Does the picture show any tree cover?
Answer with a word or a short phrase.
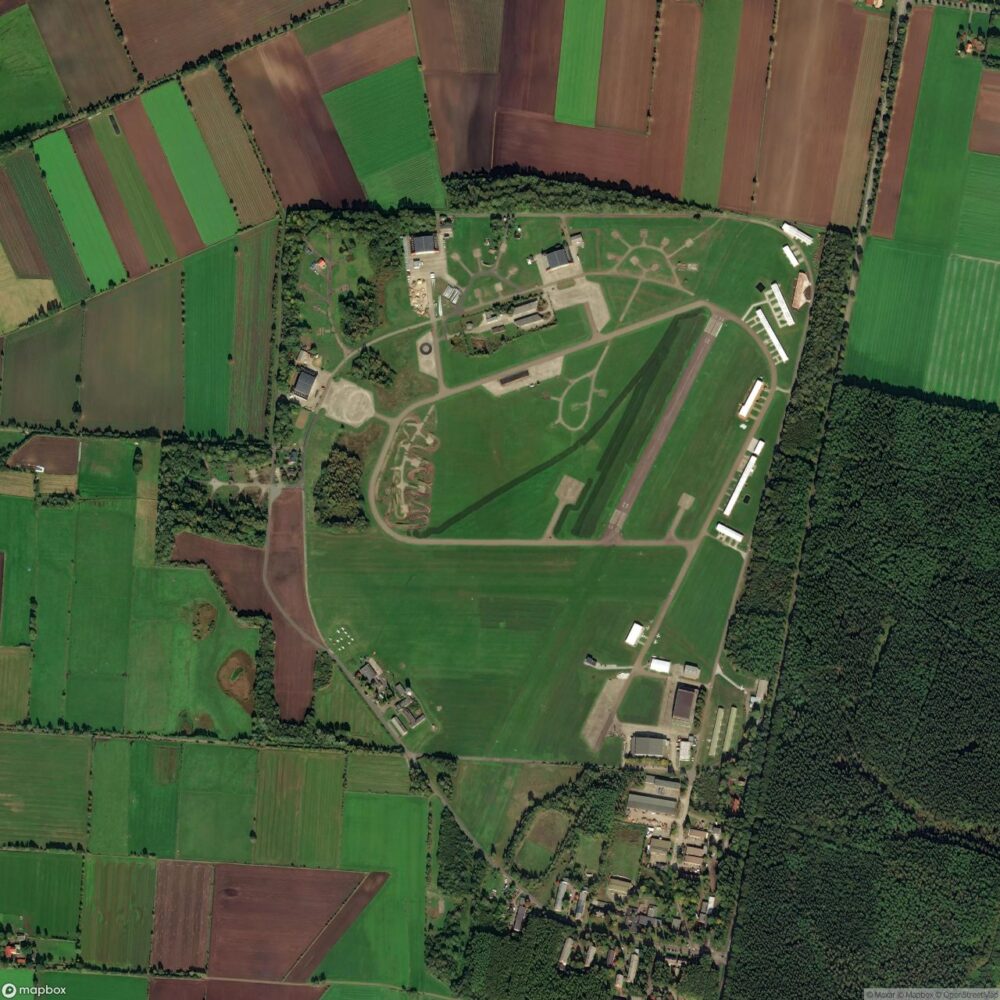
Yes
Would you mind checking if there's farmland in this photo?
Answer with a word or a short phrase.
Yes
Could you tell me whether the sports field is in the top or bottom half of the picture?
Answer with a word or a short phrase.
bottom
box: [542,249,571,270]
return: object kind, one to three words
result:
hangar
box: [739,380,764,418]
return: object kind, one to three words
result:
hangar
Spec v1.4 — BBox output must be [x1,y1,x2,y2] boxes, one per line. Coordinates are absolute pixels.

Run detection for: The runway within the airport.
[602,307,728,548]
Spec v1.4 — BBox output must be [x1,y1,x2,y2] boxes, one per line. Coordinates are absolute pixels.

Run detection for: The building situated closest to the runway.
[757,310,788,361]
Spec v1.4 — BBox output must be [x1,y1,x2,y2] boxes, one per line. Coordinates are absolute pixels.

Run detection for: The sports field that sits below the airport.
[515,809,566,874]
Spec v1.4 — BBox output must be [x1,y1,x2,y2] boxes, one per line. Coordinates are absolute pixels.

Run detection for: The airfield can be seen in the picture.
[276,212,822,775]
